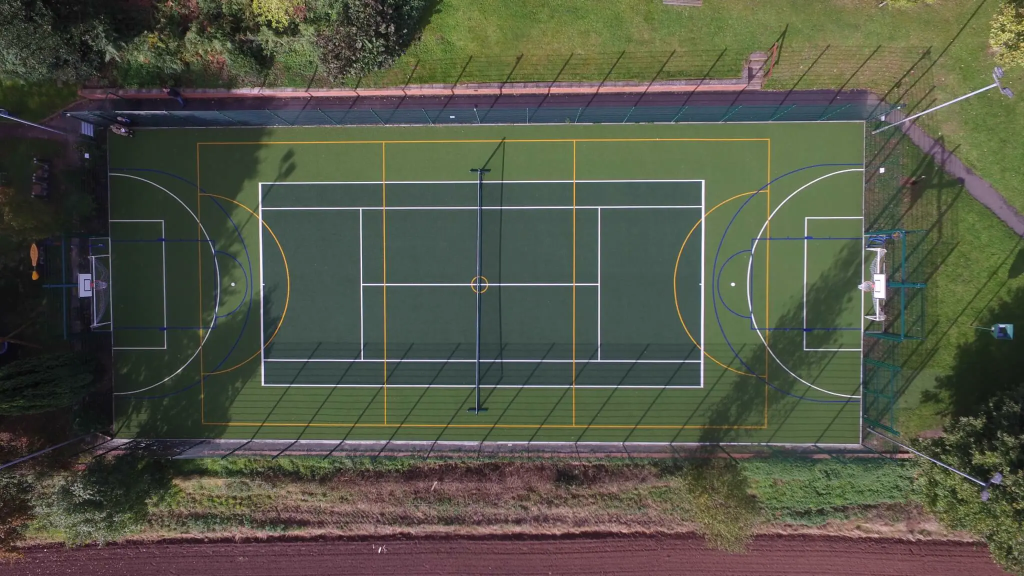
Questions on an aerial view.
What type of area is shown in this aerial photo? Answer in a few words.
sports ground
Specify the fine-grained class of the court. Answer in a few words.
tennis court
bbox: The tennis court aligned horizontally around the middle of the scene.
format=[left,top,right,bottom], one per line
[259,179,705,388]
